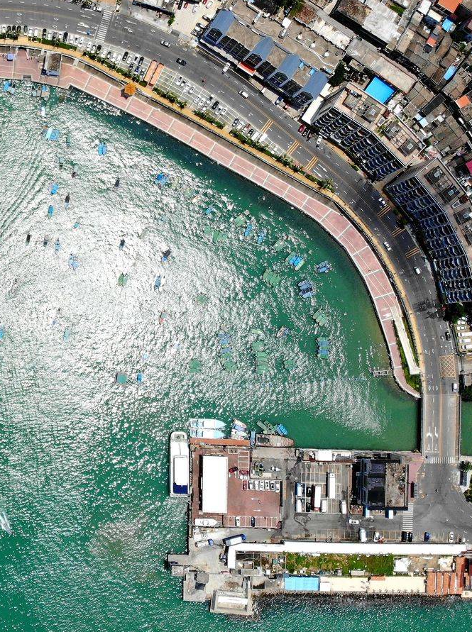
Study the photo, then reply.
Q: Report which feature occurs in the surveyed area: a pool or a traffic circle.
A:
pool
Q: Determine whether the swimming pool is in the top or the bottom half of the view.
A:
top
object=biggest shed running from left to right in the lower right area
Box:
[281,538,468,556]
